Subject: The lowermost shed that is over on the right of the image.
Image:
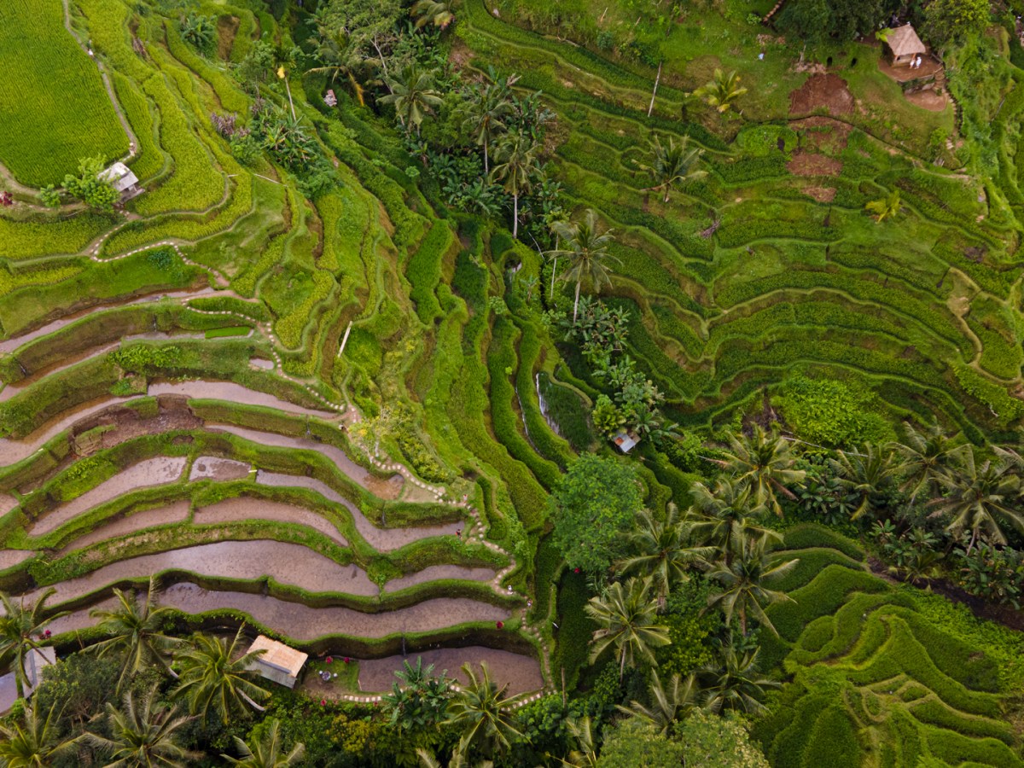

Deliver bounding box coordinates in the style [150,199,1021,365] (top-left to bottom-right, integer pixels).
[613,432,649,459]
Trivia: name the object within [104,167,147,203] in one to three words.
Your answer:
shed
